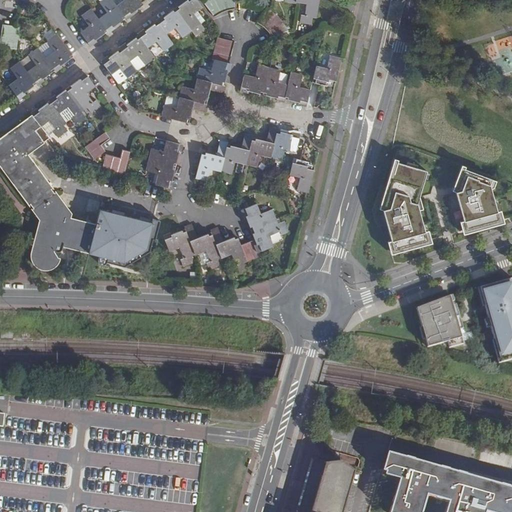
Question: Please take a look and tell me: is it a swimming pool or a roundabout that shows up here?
roundabout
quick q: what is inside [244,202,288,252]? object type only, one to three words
house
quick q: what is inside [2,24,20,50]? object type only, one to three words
building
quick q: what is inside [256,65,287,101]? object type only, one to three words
house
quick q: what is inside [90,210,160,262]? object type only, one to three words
building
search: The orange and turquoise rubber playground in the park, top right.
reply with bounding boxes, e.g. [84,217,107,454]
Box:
[486,36,512,72]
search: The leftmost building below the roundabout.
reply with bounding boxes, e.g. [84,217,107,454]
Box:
[311,449,358,512]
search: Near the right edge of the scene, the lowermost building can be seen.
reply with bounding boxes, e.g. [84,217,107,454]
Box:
[382,446,512,512]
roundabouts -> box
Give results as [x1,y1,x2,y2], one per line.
[271,258,363,354]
